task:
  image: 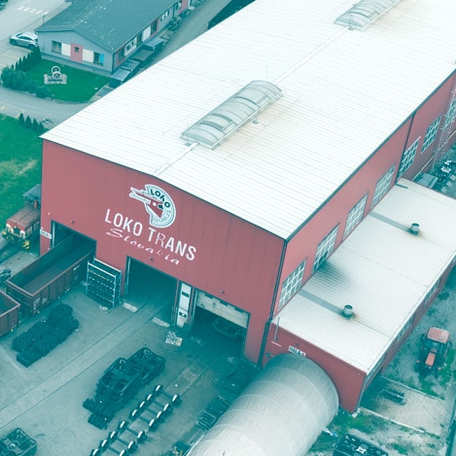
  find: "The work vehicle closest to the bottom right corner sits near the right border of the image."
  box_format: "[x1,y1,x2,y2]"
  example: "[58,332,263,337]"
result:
[412,327,455,365]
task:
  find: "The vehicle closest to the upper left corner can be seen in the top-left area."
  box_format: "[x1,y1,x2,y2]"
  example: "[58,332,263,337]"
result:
[11,33,40,49]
